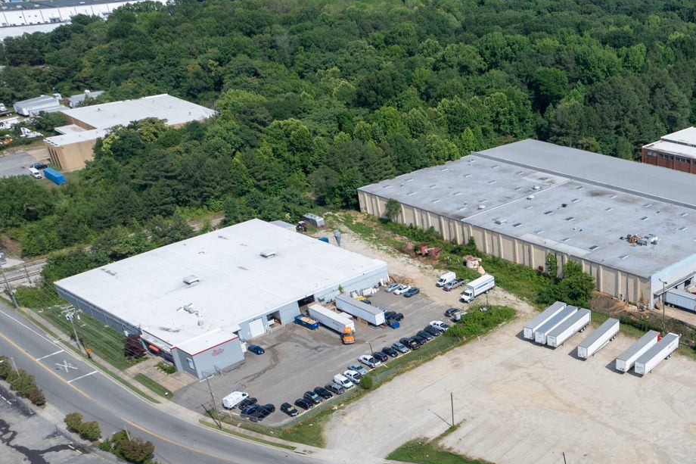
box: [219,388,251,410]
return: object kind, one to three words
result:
vehicle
